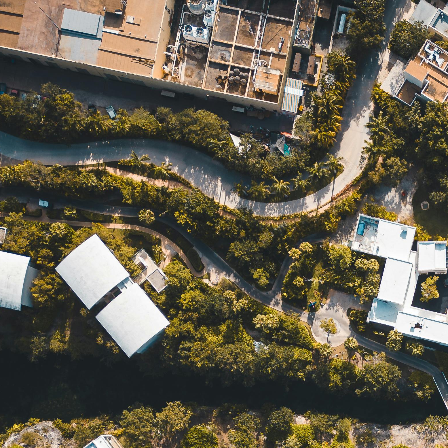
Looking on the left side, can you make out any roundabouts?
No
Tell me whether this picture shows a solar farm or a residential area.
residential area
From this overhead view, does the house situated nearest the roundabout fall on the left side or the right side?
right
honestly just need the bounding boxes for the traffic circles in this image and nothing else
[311,315,350,350]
